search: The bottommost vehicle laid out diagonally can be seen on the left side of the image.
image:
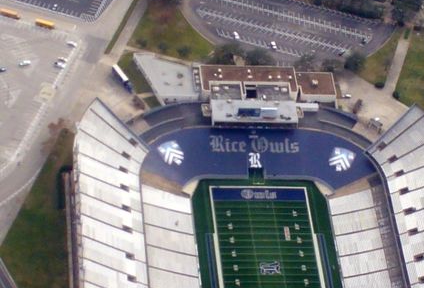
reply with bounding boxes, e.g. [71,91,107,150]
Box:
[112,61,131,86]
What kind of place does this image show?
sports ground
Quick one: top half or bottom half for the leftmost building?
top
